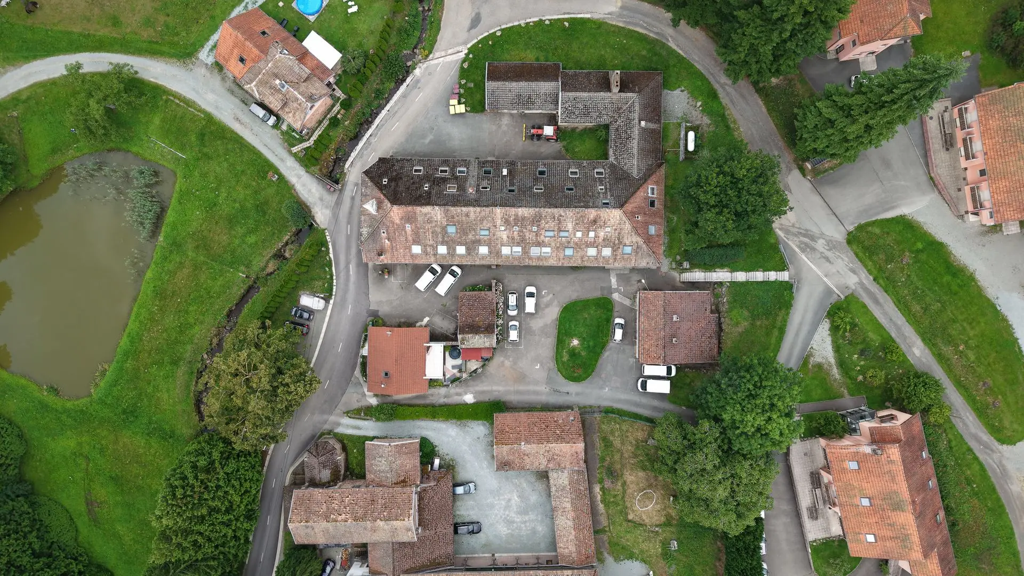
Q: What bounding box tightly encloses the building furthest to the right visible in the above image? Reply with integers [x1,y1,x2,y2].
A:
[953,75,1024,225]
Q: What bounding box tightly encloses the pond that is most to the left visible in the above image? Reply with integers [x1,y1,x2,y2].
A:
[0,149,179,398]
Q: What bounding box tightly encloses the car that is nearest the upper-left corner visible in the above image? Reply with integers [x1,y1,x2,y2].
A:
[250,103,276,125]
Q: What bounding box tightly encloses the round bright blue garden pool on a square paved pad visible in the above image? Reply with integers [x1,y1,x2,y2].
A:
[292,0,329,22]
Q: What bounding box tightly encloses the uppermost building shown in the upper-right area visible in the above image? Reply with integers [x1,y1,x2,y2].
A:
[824,0,932,56]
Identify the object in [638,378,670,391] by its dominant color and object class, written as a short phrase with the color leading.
white vehicle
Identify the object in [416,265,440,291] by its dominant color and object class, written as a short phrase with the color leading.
white vehicle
